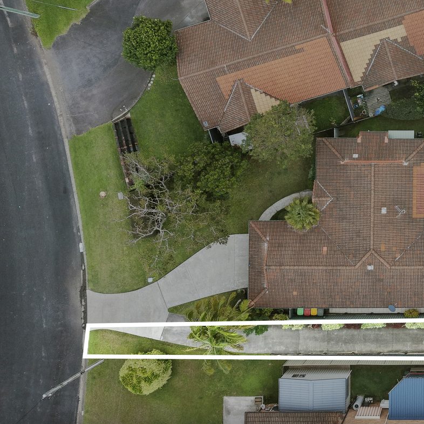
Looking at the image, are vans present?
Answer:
No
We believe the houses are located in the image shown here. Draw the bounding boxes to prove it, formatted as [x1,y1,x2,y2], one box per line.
[174,0,424,134]
[244,405,424,424]
[248,131,424,309]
